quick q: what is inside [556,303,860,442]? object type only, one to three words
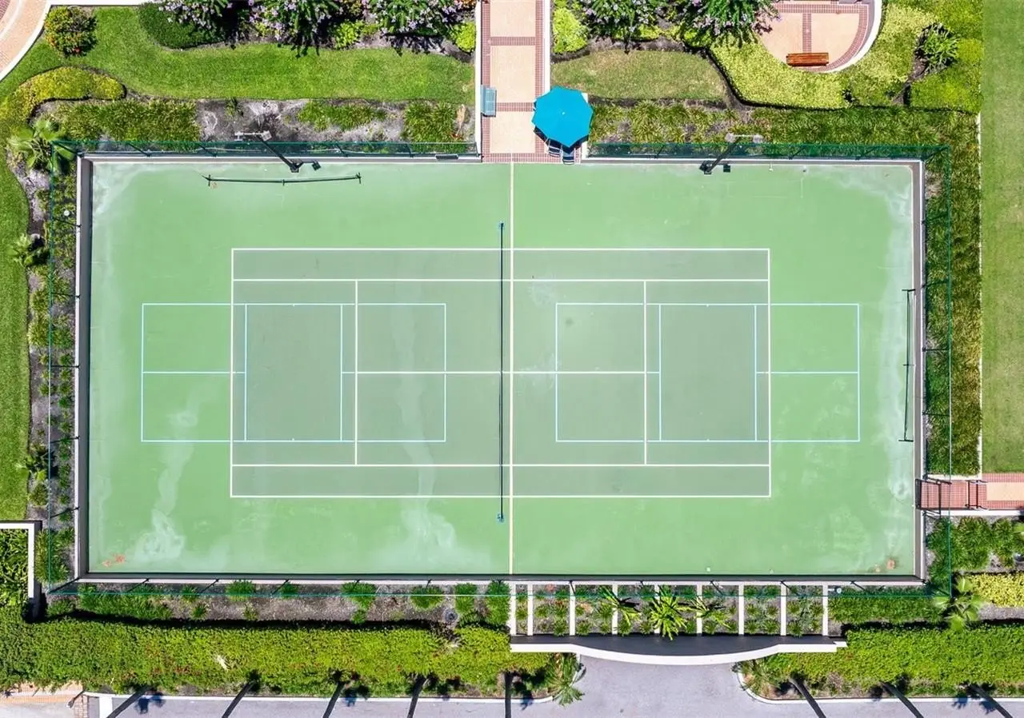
sports court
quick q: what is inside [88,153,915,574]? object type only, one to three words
tennis court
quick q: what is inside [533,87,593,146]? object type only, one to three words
umbrella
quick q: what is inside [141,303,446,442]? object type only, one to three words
sports court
